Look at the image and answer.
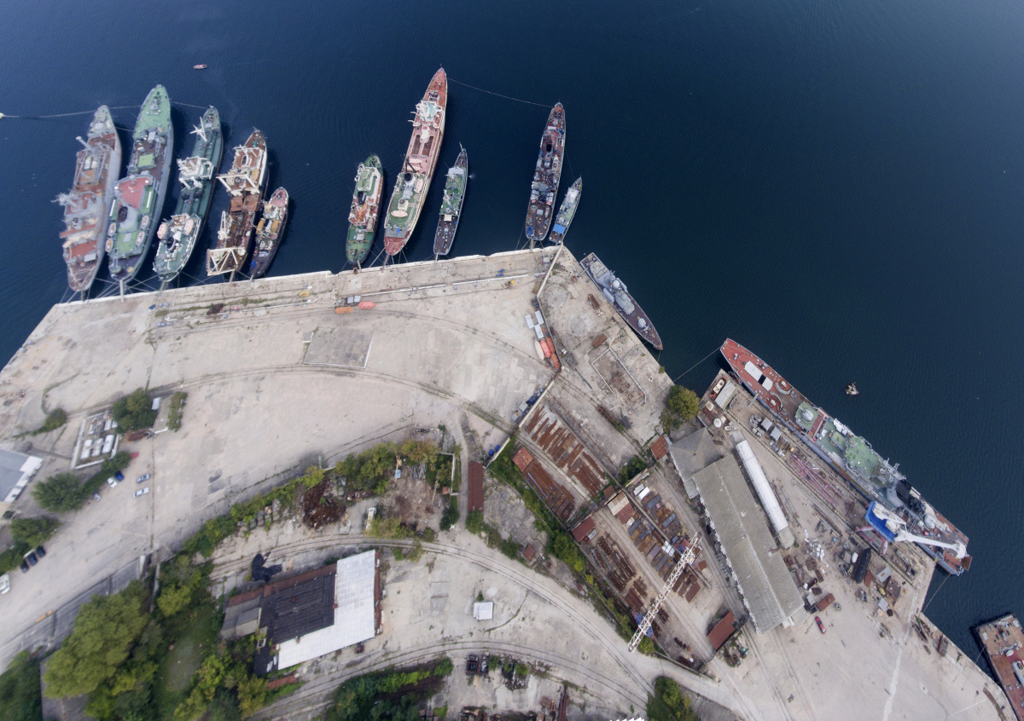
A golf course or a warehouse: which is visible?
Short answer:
warehouse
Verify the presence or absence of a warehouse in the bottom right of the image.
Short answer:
Yes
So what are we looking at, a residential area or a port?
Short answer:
port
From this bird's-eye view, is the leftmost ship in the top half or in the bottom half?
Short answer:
top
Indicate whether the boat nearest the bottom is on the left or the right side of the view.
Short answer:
right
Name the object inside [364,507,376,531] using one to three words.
vehicle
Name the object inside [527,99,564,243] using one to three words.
ship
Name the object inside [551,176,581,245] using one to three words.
vessel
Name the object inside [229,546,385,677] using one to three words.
building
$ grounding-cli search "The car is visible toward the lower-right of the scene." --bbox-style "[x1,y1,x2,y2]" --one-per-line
[814,617,827,635]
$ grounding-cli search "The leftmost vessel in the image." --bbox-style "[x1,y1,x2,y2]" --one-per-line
[52,101,124,291]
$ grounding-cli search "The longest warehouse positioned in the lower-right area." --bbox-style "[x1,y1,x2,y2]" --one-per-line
[691,453,803,633]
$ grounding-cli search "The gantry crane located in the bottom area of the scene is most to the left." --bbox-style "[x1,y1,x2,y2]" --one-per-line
[626,533,705,655]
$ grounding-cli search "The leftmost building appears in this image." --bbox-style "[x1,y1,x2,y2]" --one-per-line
[0,447,54,503]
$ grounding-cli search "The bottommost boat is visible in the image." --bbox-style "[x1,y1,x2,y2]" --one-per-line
[983,688,1005,721]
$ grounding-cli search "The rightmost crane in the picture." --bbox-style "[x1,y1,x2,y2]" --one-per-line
[854,501,966,563]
